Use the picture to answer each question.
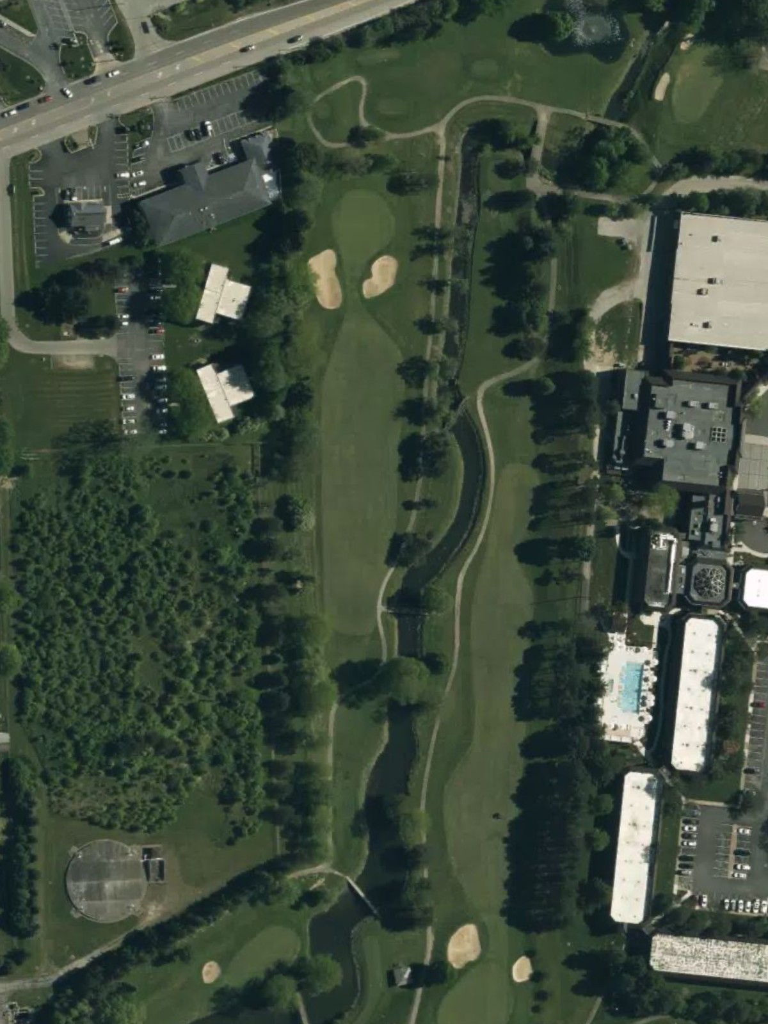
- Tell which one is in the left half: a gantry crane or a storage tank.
storage tank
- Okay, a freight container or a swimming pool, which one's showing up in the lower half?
swimming pool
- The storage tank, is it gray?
Yes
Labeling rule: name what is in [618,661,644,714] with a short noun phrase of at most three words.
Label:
swimming pool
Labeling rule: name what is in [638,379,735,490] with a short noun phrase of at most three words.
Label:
building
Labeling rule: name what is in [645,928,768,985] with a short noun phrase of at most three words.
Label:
building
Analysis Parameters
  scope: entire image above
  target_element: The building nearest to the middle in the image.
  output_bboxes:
[196,364,253,423]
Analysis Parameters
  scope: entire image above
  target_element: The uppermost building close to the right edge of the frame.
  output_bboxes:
[667,213,768,351]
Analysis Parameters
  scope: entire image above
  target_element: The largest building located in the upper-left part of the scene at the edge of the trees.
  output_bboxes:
[141,133,276,247]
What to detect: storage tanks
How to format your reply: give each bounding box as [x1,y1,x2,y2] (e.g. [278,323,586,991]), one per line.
[65,840,147,921]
